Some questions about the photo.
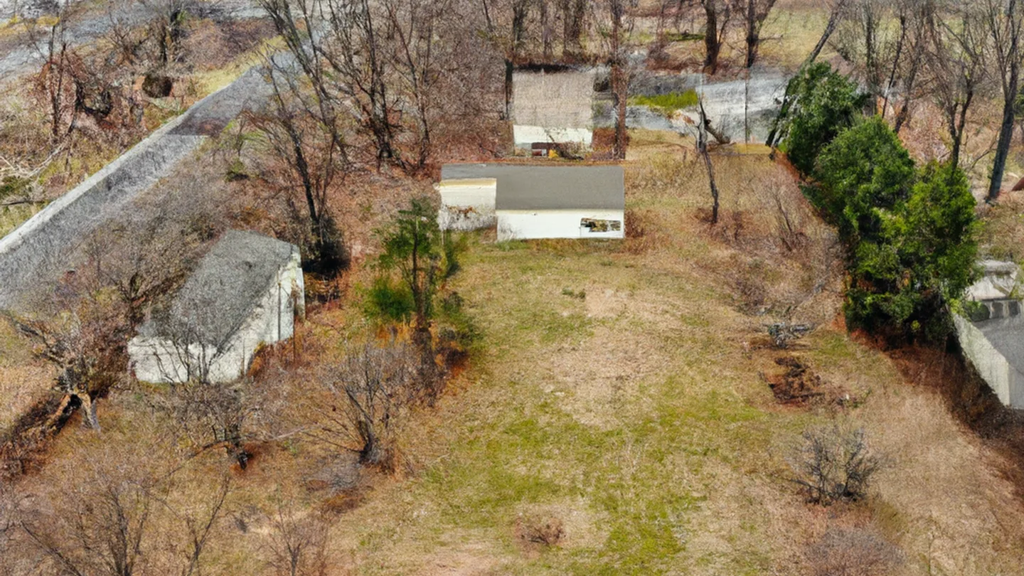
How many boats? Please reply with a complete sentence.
I count no boats.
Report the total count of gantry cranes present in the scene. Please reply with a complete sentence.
The picture shows no gantry cranes.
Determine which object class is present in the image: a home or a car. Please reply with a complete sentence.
Of the two, only a home appears.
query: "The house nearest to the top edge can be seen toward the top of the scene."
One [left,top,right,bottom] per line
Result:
[511,68,599,159]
